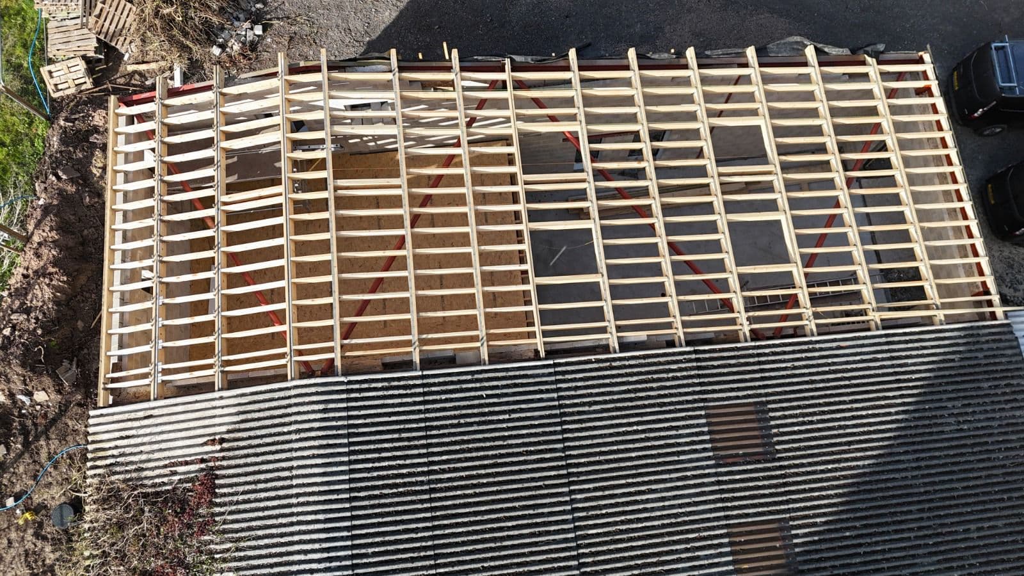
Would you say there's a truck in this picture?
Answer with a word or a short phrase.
No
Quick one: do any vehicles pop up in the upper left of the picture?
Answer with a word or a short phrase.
No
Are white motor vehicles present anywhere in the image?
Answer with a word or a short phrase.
No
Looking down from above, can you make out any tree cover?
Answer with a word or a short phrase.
No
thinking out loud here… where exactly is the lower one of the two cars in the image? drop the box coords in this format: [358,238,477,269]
[969,154,1024,246]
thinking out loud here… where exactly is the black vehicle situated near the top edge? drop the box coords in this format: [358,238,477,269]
[935,25,1024,136]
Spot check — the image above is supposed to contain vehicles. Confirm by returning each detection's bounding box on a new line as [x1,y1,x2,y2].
[969,154,1024,246]
[935,25,1024,136]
